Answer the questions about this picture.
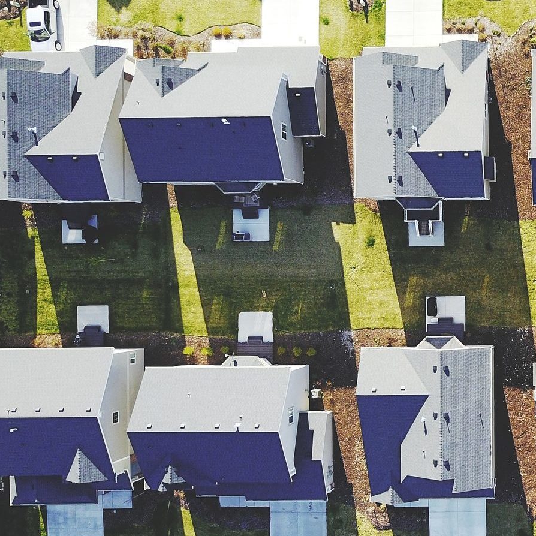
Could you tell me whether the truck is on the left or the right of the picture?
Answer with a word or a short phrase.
left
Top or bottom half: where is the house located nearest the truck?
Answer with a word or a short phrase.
top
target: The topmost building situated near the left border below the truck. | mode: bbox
[0,43,142,206]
